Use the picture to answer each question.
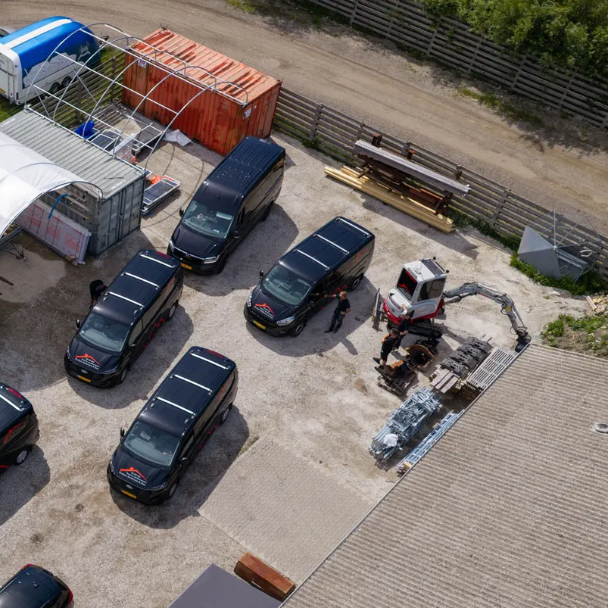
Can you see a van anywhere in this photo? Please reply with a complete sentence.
Yes, there's a van here.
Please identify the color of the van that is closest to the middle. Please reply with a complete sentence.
The van that is closest to the middle looks black in the image.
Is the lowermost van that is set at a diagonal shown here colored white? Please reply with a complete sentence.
No, the lowermost van that is set at a diagonal is black.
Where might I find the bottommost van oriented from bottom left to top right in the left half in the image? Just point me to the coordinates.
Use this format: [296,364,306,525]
[108,344,241,504]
